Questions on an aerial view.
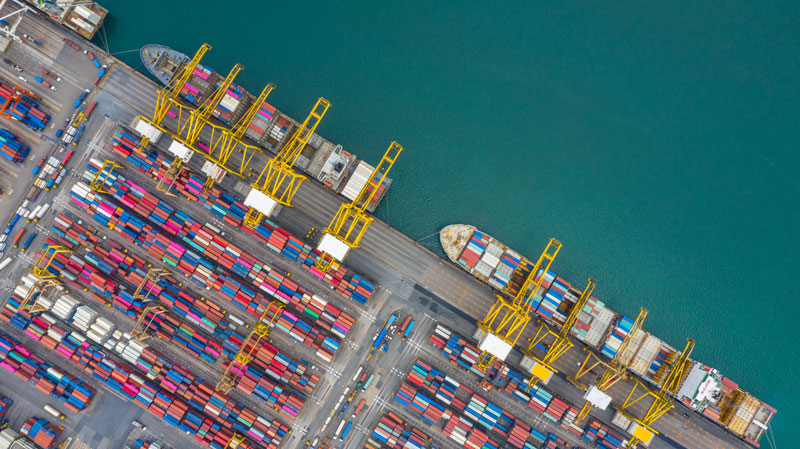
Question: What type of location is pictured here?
port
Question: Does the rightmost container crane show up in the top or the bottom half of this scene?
bottom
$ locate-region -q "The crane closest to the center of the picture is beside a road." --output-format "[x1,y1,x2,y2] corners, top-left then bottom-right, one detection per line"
[316,140,405,273]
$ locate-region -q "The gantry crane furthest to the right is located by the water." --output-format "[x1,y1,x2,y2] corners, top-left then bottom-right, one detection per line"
[607,337,698,449]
